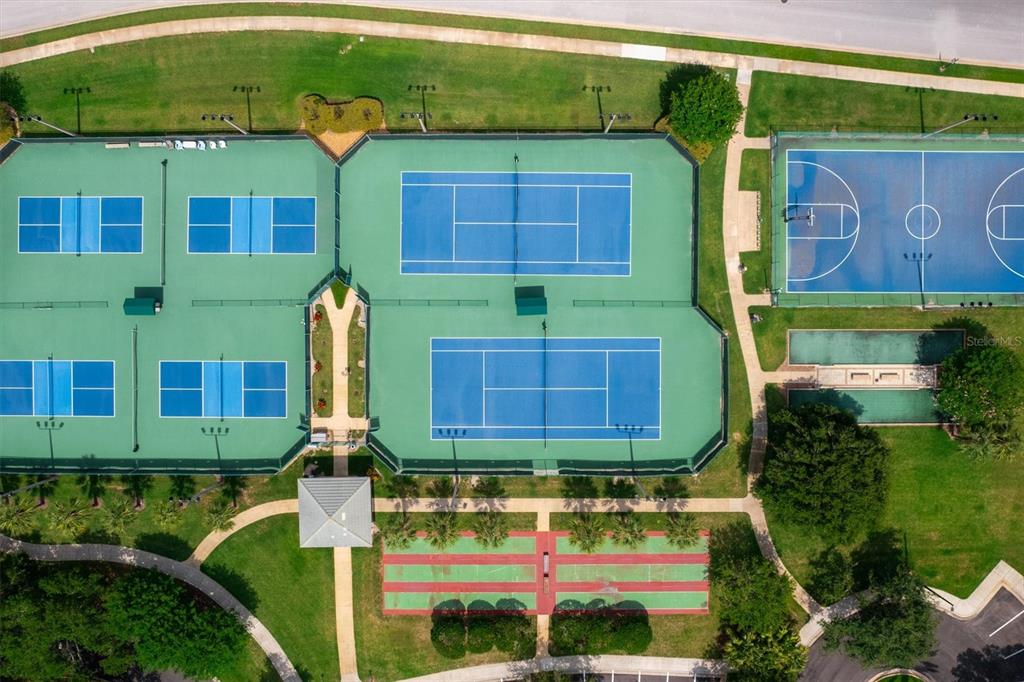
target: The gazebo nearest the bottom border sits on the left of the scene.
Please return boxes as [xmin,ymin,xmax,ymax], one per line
[298,474,373,548]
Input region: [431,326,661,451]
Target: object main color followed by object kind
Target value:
blue tennis court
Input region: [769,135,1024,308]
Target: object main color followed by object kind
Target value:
blue basketball court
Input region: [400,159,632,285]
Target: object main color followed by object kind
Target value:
blue tennis court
